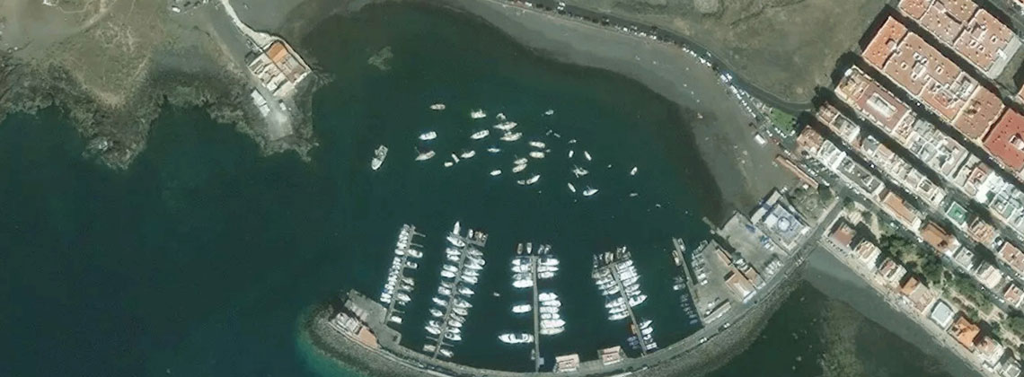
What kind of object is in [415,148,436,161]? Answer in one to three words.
boat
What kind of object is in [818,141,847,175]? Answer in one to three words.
house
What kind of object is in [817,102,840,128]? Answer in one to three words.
house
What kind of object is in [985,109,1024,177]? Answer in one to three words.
building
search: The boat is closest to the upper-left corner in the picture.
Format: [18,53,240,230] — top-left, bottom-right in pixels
[372,144,388,169]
